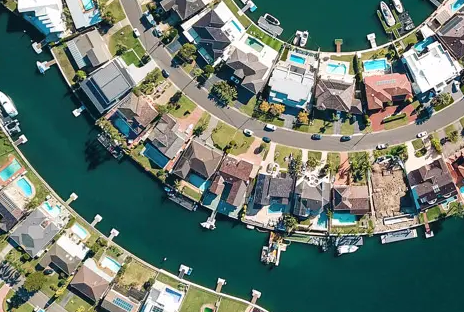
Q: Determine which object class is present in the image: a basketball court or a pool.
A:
pool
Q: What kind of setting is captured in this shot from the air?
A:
residential area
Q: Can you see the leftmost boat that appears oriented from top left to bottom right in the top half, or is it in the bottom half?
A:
top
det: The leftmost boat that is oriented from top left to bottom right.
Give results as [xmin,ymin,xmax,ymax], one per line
[0,93,20,119]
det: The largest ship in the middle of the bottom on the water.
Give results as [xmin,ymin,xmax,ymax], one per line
[256,228,280,268]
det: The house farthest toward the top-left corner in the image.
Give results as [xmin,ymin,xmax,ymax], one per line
[17,0,70,33]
